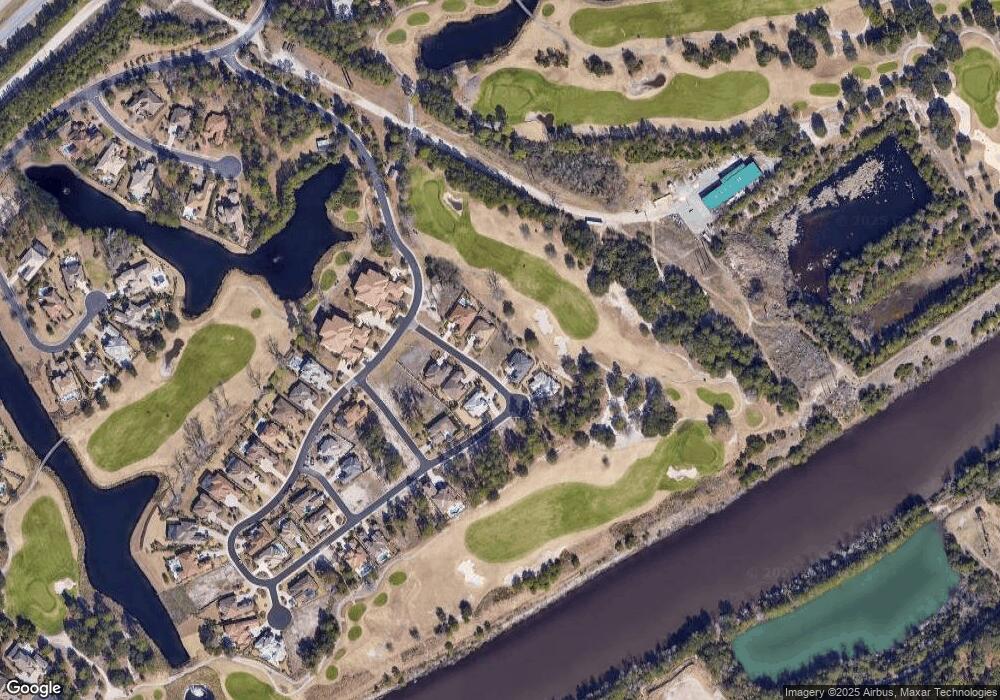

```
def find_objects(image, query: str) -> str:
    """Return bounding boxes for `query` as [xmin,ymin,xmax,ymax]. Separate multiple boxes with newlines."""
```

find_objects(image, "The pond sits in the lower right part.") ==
[732,519,959,682]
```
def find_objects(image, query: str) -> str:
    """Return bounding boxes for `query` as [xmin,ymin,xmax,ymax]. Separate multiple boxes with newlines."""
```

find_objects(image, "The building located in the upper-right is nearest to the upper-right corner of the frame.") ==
[702,161,763,211]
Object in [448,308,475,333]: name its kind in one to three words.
house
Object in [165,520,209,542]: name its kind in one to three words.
house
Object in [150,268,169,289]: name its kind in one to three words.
swimming pool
